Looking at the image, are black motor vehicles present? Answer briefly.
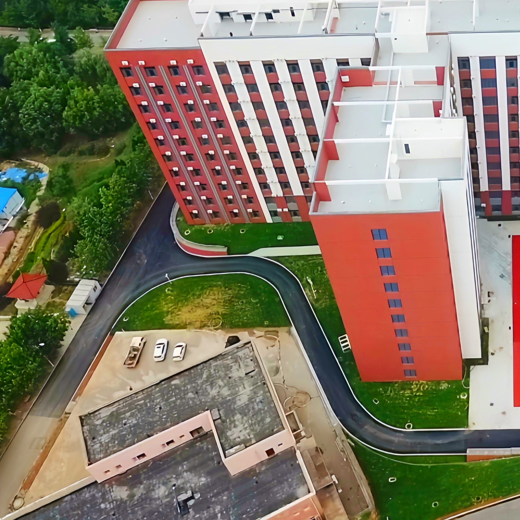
No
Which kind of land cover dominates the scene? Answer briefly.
buildings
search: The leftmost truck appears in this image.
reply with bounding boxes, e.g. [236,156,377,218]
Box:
[119,332,144,370]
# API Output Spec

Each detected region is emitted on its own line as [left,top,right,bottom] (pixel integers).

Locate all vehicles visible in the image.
[170,338,187,363]
[151,334,168,363]
[119,332,144,370]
